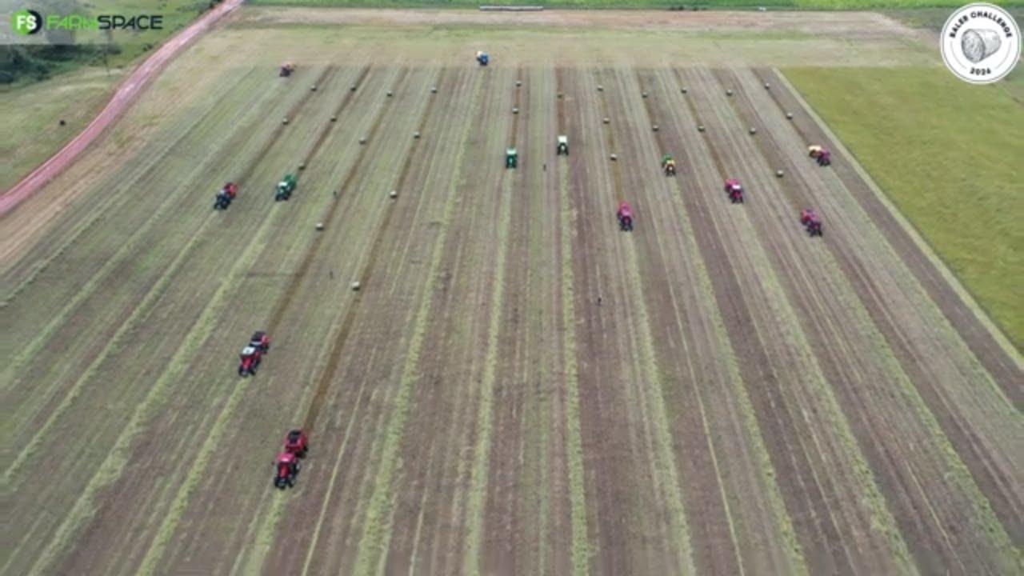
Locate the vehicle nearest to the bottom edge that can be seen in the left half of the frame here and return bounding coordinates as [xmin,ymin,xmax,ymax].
[273,448,302,487]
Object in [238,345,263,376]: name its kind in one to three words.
work vehicle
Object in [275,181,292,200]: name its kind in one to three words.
work vehicle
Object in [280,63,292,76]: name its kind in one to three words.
vehicle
